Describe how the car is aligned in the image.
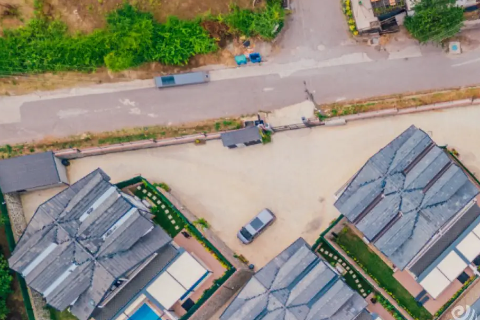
on a diagonal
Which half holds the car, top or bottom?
bottom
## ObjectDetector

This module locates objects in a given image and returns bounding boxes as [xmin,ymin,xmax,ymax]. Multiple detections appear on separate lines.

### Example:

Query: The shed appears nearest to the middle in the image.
[222,125,267,150]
